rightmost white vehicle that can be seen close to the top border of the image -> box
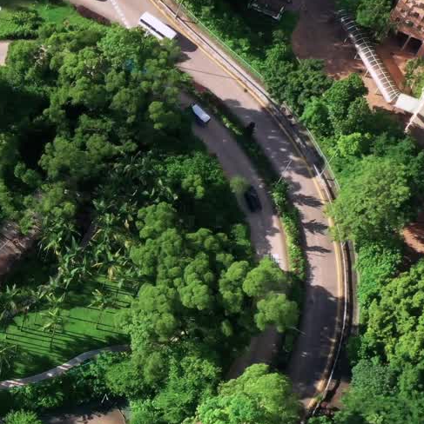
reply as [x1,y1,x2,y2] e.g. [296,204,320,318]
[133,13,180,49]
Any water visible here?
No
